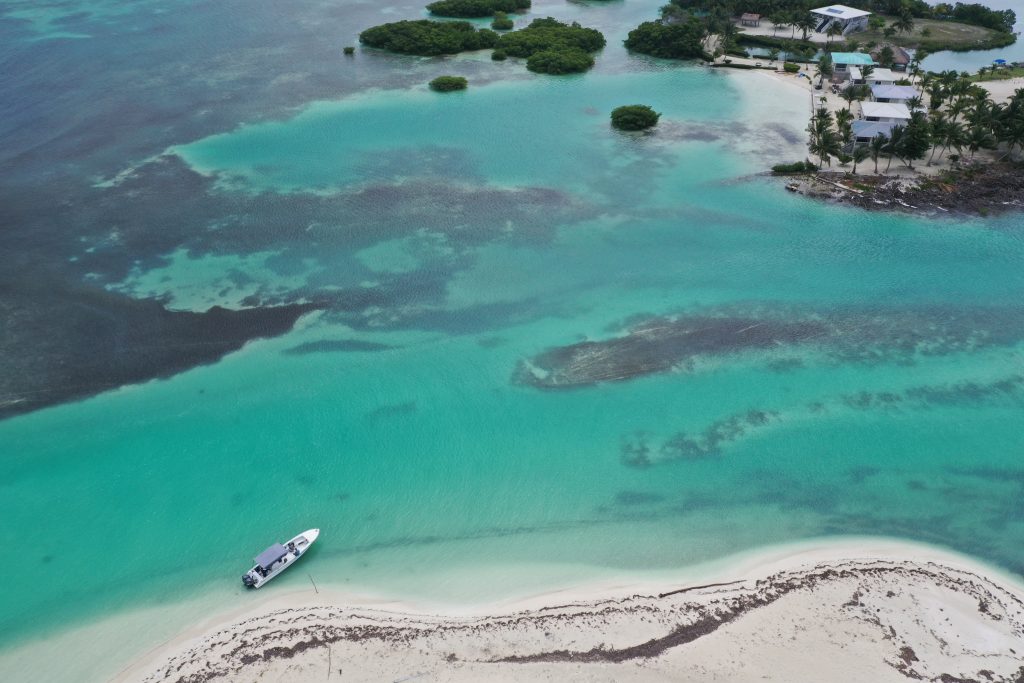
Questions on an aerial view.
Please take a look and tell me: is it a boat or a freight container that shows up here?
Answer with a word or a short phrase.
boat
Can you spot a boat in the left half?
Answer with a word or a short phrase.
Yes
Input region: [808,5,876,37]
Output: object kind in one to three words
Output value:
house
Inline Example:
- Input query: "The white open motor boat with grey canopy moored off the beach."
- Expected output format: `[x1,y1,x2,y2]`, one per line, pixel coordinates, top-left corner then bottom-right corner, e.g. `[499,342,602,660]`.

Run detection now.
[243,530,320,591]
